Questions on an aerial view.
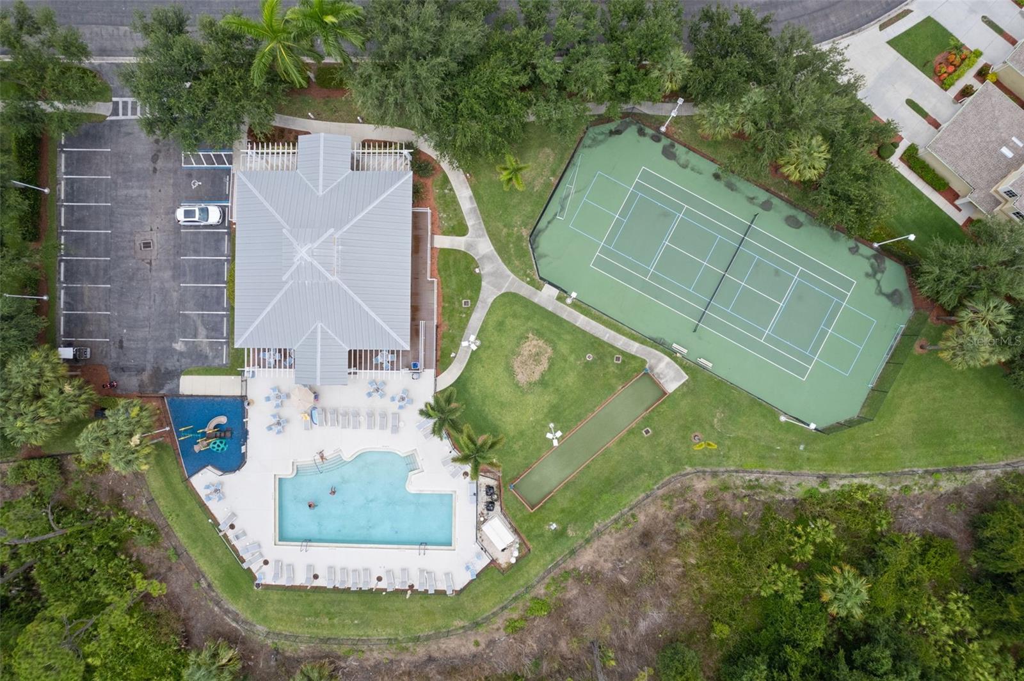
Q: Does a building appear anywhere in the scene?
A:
Yes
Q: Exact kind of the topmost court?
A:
tennis court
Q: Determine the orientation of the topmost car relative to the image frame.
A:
from left to right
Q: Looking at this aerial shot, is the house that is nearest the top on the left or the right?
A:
right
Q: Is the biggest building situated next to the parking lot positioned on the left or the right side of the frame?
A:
left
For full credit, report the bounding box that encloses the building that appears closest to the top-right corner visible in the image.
[990,34,1024,102]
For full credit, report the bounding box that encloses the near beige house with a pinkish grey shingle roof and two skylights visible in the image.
[917,79,1024,253]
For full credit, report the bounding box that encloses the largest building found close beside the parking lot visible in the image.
[233,132,414,385]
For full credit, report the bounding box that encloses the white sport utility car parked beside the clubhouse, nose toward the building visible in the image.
[174,204,226,227]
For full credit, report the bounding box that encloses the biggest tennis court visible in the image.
[529,118,914,430]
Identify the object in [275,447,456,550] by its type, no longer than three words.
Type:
swimming pool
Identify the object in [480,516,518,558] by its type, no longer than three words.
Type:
shed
